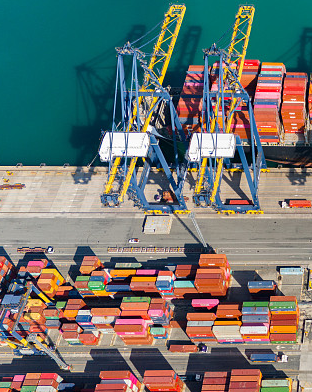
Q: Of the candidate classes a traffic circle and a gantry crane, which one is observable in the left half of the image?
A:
gantry crane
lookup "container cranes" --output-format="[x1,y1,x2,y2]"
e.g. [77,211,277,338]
[0,278,54,350]
[98,2,197,217]
[188,3,270,218]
